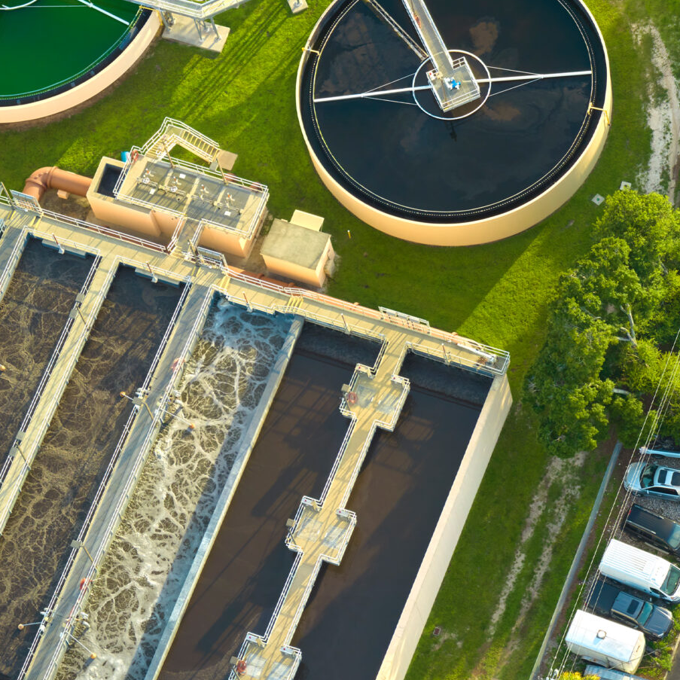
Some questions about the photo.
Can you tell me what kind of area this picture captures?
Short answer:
industrial area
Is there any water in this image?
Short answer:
Yes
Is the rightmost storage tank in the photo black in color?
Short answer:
Yes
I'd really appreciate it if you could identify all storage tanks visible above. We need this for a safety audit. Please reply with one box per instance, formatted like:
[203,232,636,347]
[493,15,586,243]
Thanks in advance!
[295,0,613,245]
[0,0,167,125]
[87,163,162,237]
